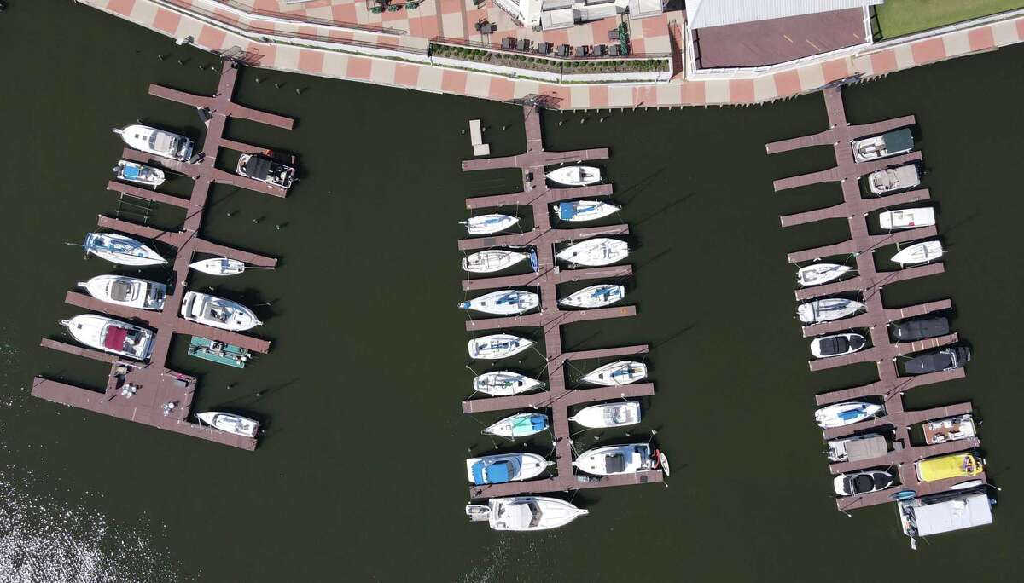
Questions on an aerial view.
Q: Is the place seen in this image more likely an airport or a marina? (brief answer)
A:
marina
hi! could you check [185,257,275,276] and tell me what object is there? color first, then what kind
white boat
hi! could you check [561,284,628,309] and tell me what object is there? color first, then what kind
white boat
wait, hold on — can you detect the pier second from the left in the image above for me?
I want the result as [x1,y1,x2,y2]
[458,107,663,498]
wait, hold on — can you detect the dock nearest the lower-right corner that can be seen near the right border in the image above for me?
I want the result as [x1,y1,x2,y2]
[764,86,987,512]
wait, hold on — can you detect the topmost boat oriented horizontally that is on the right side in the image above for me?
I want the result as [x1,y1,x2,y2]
[851,127,915,163]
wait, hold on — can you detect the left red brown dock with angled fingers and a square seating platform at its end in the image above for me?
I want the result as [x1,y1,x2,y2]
[32,63,297,451]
